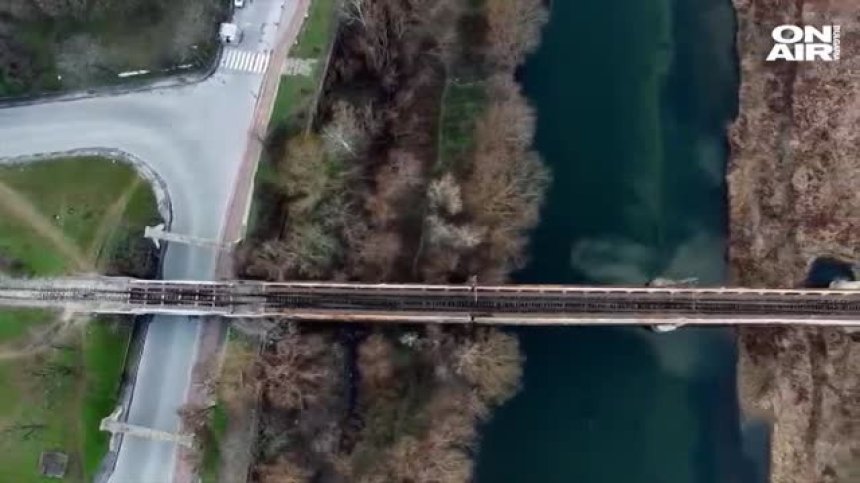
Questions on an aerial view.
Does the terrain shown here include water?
Yes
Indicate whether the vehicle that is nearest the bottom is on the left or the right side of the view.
left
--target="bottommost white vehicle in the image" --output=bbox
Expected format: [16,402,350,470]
[218,20,239,49]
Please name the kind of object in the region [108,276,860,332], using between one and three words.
bridge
